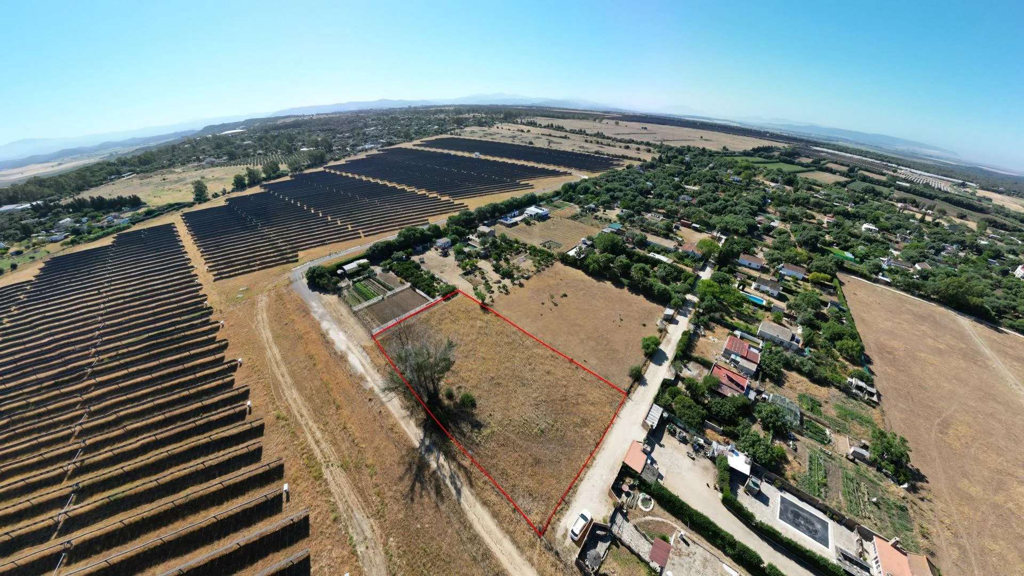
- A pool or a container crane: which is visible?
pool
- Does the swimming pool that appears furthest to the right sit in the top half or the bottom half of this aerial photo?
bottom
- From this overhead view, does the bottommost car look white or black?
white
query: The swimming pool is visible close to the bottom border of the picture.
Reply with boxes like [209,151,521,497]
[777,491,832,553]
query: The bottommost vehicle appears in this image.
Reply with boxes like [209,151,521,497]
[568,508,594,544]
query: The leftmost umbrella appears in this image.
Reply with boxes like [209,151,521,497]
[581,545,609,576]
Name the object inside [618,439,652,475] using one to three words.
shed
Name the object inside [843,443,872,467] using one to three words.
shed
